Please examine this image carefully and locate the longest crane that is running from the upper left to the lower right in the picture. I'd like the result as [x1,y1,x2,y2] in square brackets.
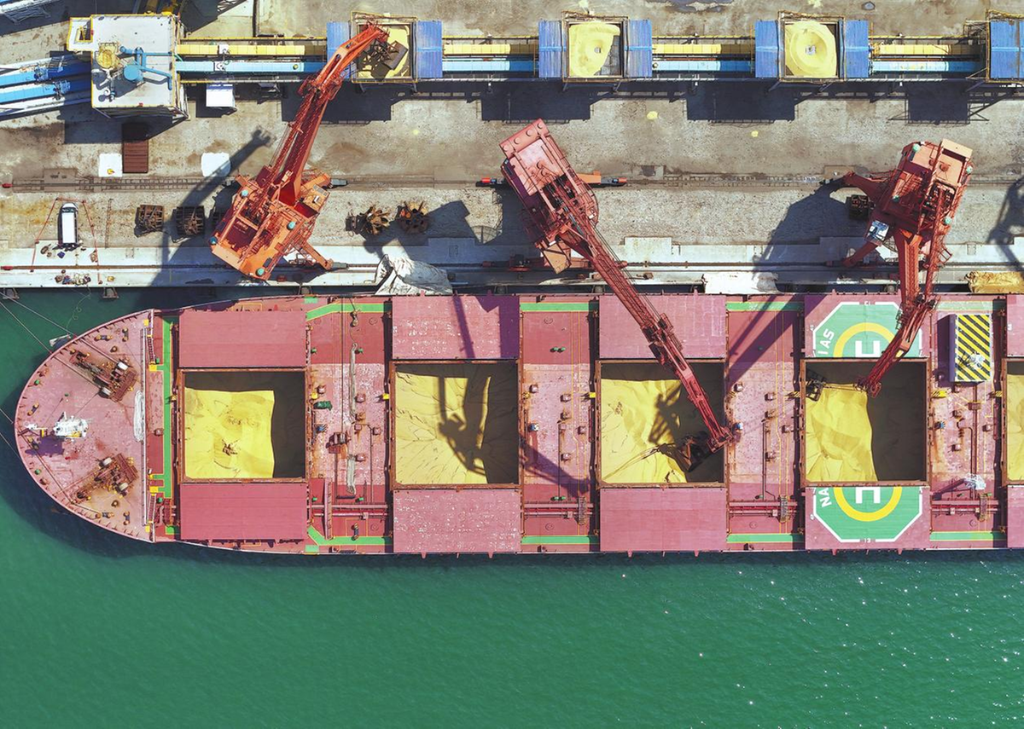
[477,123,740,452]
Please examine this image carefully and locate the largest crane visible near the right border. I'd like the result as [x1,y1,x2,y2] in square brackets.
[829,139,977,394]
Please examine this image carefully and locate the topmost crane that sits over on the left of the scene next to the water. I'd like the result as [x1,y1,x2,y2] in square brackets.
[210,20,383,284]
